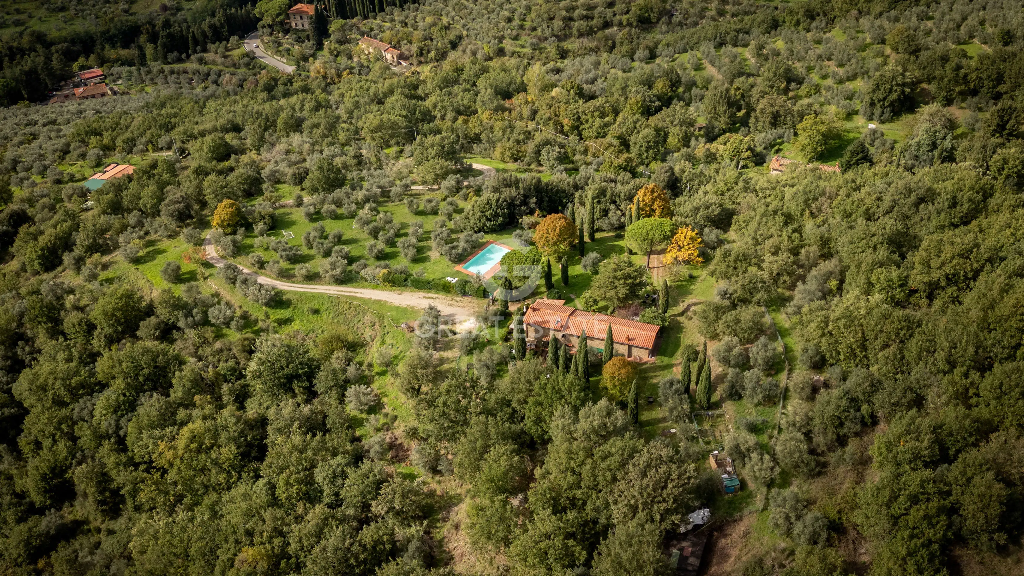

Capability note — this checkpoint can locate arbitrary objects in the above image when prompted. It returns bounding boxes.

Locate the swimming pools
[454,240,521,279]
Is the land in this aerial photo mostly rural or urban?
rural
